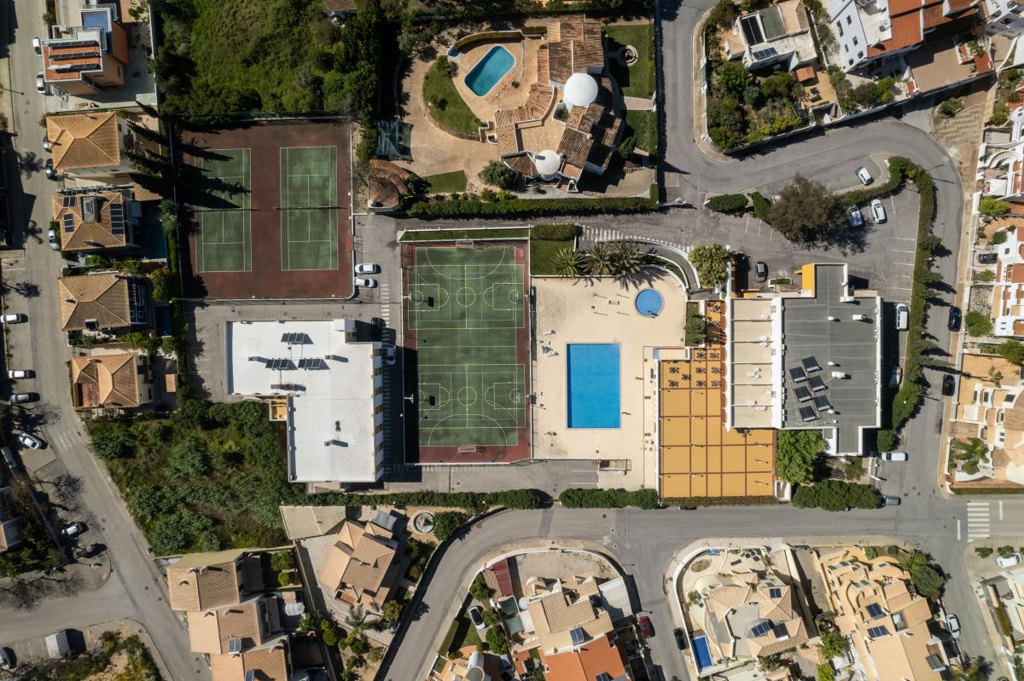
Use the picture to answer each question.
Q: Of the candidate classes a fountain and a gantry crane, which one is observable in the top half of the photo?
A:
fountain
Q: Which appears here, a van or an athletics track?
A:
van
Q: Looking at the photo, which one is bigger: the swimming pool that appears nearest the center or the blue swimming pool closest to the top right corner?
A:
the swimming pool that appears nearest the center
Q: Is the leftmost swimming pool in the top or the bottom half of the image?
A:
top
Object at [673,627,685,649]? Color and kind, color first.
black vehicle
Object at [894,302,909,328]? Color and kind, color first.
white vehicle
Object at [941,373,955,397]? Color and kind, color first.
black car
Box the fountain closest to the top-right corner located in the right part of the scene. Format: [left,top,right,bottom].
[617,43,639,66]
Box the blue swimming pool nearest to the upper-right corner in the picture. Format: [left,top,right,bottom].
[633,286,665,318]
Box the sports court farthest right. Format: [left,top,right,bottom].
[401,239,532,464]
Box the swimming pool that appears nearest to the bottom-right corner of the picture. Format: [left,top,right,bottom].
[690,636,714,671]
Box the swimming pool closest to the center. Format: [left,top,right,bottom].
[565,341,623,431]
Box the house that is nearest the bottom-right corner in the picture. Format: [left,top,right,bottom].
[978,555,1024,653]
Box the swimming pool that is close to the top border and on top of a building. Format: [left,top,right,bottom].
[86,11,109,39]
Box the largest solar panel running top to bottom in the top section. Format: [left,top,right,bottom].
[111,203,123,234]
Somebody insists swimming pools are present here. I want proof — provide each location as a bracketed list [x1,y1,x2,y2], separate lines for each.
[153,304,173,338]
[690,636,714,671]
[463,43,517,98]
[633,286,665,318]
[146,222,168,260]
[565,341,623,431]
